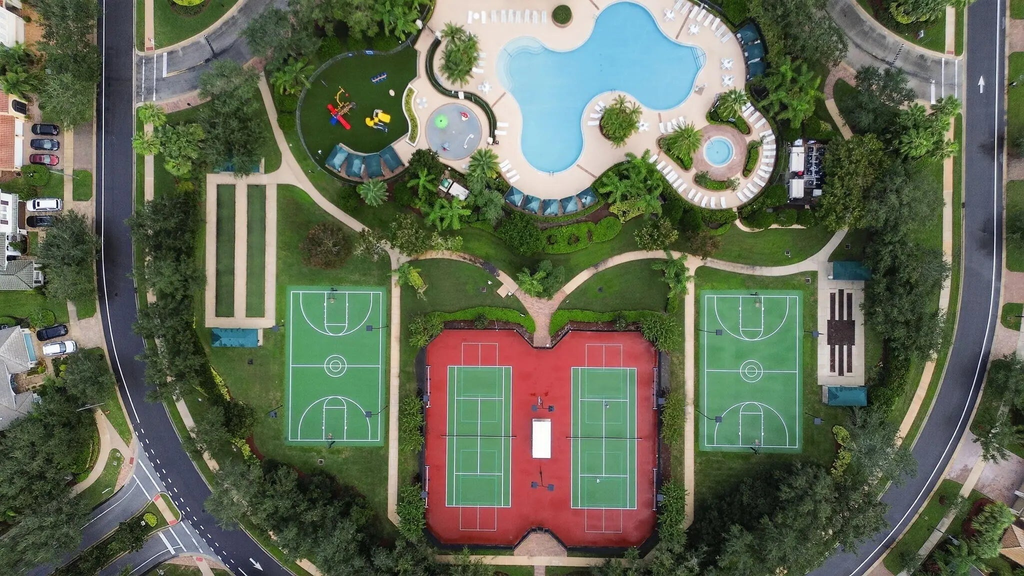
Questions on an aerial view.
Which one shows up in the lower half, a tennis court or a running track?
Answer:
tennis court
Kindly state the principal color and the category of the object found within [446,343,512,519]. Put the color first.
green tennis court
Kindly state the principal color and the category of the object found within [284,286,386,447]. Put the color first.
green basketball court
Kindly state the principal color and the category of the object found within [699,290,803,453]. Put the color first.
green basketball court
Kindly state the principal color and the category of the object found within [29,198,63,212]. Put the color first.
white car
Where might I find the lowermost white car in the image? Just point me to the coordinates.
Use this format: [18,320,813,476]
[43,340,78,354]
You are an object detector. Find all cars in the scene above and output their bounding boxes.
[36,325,69,340]
[28,215,54,228]
[31,153,61,166]
[43,340,78,354]
[32,138,61,151]
[29,198,63,212]
[32,123,61,136]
